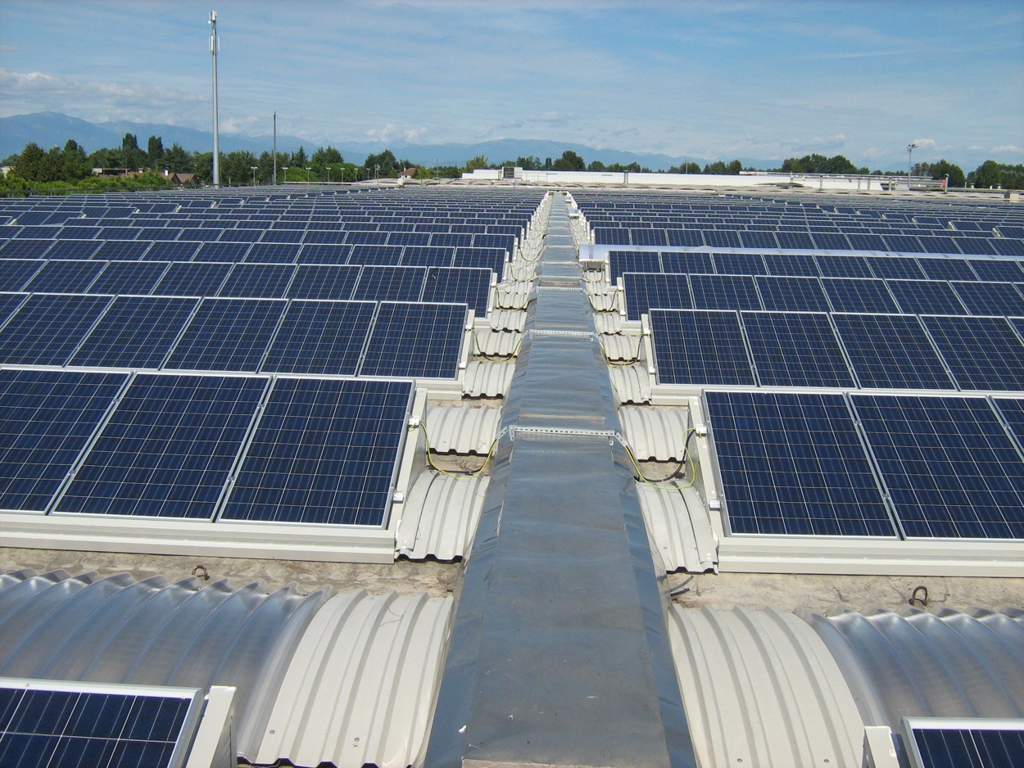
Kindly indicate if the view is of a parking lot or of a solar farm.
solar farm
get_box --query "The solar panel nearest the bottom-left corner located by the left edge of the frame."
[0,680,207,768]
